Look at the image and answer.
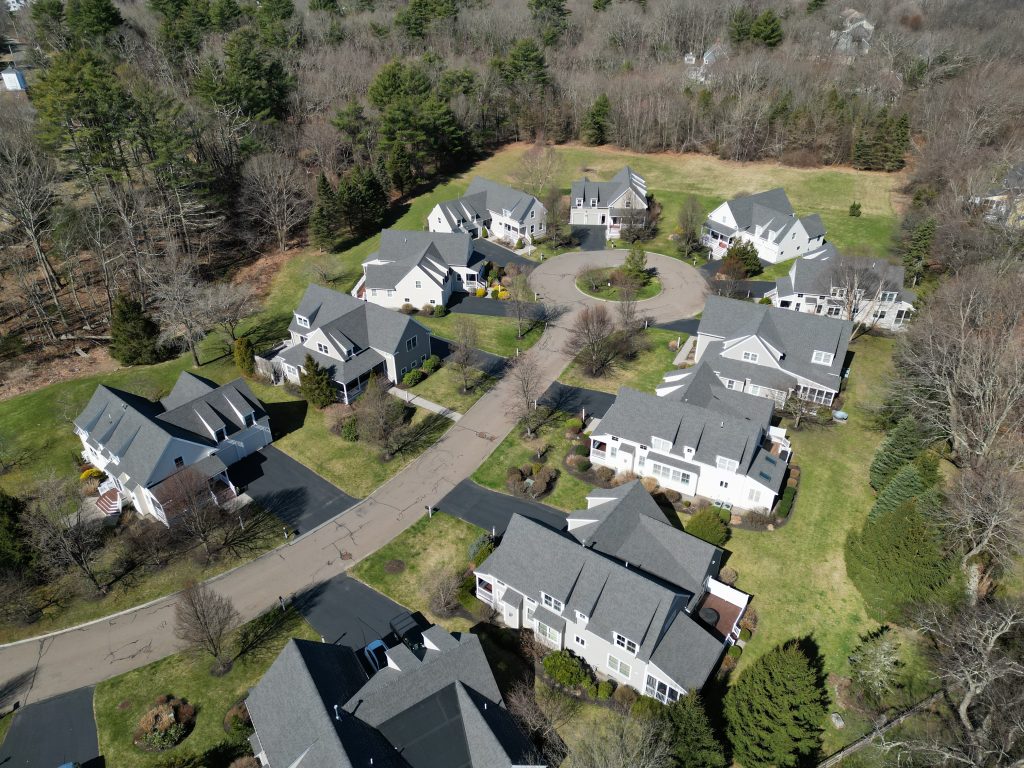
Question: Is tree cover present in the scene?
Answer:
Yes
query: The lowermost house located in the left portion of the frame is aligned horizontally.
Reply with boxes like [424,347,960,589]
[245,630,556,768]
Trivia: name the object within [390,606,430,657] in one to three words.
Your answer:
car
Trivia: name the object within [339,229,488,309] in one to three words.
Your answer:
house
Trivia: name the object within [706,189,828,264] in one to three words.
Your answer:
house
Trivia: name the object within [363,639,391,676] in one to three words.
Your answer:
car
